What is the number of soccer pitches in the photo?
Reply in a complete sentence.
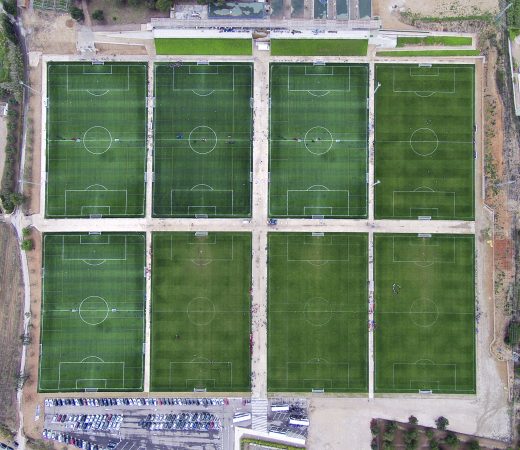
There are 8 soccer pitches in the image.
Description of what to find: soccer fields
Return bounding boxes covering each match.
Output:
[373,233,476,394]
[45,61,148,218]
[268,62,370,218]
[37,232,146,393]
[375,63,475,219]
[150,232,252,392]
[267,232,369,393]
[152,61,254,218]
